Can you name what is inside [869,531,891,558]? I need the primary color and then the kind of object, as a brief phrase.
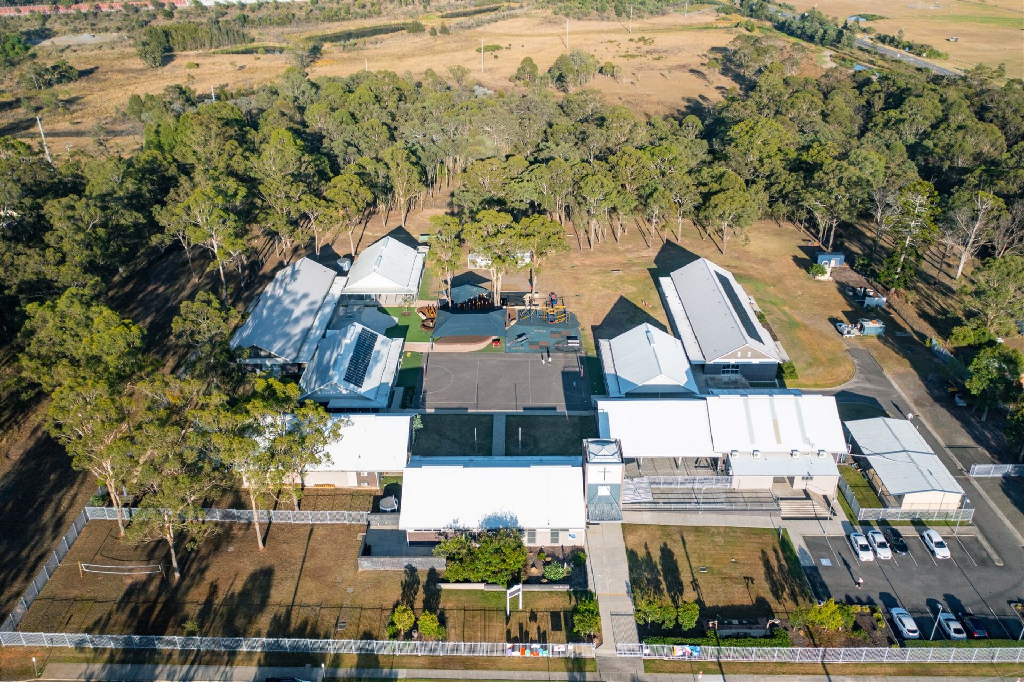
white car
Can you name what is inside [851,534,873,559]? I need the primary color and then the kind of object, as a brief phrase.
white car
